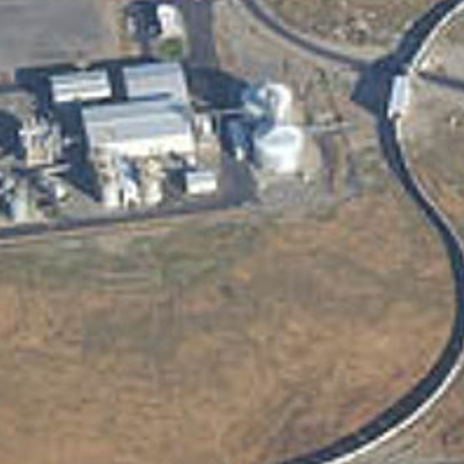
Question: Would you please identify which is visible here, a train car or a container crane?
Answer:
train car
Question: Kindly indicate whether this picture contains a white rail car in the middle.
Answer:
No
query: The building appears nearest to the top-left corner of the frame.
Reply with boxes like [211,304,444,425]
[52,70,109,101]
